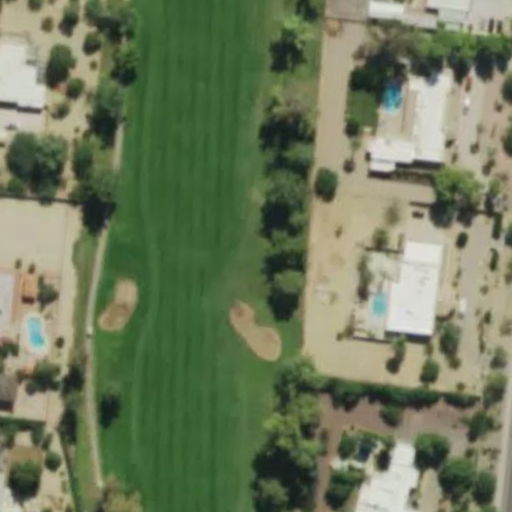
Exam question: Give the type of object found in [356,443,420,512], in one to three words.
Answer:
house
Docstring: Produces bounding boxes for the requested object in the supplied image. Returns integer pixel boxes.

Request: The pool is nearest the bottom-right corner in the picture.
[356,437,377,463]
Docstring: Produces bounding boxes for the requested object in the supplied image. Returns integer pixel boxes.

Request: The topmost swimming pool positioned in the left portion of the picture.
[25,314,48,350]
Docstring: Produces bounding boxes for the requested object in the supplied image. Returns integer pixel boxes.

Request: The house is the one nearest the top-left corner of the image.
[0,35,46,106]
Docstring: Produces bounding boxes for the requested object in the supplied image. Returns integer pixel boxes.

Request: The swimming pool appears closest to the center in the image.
[372,291,388,317]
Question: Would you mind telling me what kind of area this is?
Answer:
golf course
